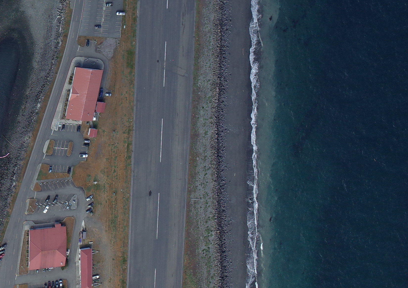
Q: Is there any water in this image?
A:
Yes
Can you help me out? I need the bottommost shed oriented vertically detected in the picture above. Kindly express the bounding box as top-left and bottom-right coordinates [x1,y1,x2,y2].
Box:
[79,247,92,288]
